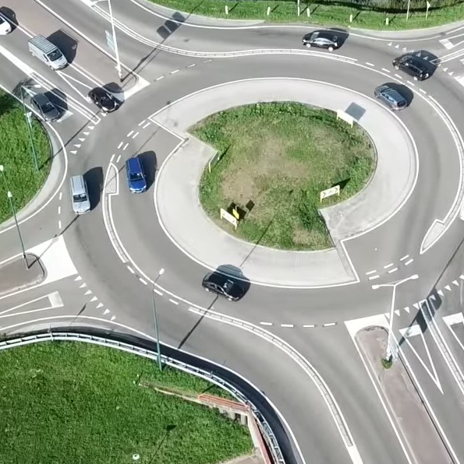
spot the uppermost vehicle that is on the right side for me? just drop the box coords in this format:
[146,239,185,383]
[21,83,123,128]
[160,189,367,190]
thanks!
[303,35,339,53]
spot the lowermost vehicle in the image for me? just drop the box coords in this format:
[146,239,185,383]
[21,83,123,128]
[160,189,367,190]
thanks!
[198,274,244,305]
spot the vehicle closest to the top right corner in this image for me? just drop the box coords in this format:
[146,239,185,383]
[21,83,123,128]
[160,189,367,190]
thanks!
[391,59,430,82]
